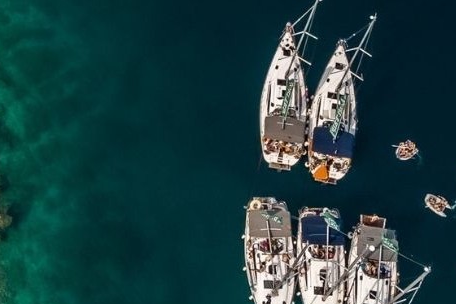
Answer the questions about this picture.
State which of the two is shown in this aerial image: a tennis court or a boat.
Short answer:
boat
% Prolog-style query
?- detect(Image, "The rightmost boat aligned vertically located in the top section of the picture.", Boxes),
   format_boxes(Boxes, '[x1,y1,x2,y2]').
[311,10,379,183]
